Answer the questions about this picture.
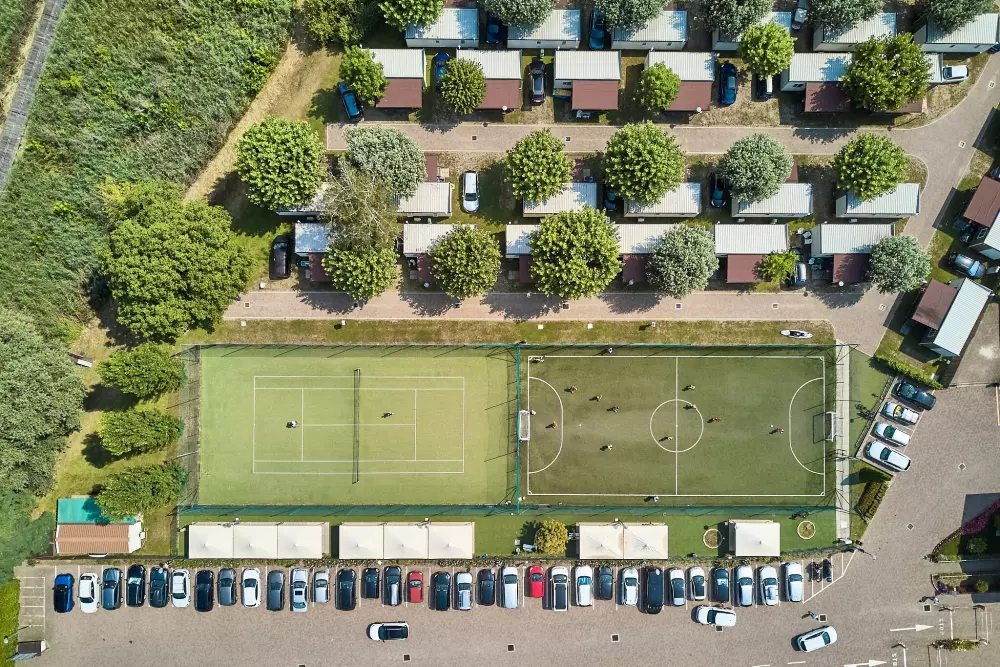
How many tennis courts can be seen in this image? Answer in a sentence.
Just 1 tennis court appears in this view.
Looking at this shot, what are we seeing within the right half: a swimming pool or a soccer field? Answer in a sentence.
Visible within the right half is a soccer field.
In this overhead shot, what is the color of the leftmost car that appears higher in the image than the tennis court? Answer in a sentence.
In this view, the leftmost car that appears higher in the image than the tennis court is black.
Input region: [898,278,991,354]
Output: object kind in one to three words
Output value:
house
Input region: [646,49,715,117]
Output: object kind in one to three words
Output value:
house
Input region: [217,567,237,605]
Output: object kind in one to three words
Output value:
car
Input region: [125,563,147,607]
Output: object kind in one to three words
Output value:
car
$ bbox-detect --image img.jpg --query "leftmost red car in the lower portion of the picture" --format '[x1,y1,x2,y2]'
[407,570,425,603]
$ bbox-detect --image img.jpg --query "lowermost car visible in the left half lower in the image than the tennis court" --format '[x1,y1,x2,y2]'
[369,621,408,643]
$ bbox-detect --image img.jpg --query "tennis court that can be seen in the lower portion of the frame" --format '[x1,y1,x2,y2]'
[199,345,518,506]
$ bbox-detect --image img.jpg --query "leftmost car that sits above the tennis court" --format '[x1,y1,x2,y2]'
[270,235,292,278]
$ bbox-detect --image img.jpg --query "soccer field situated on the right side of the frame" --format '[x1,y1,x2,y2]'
[518,345,836,506]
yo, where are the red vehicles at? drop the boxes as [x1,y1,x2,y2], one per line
[407,570,425,603]
[528,564,546,598]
